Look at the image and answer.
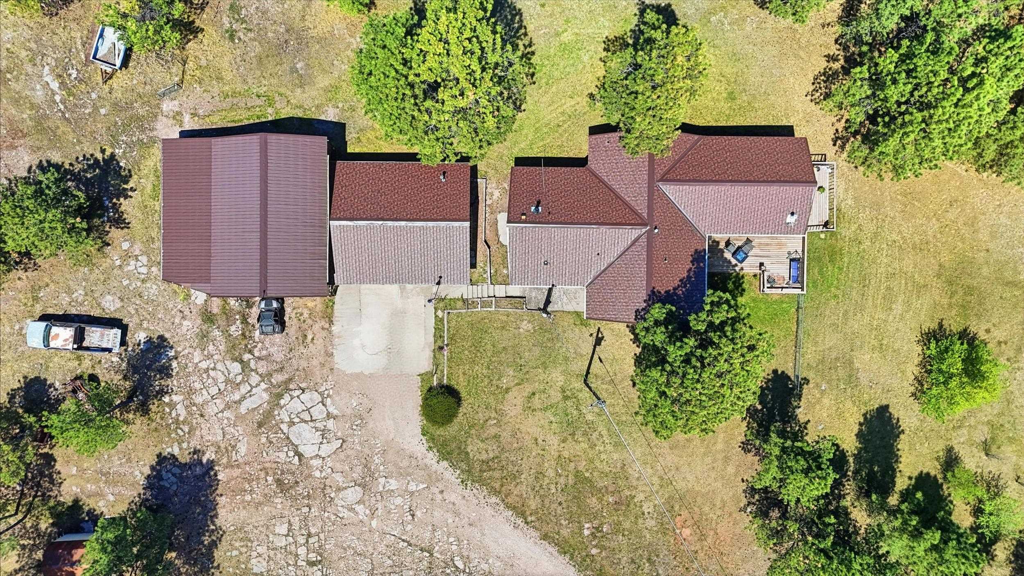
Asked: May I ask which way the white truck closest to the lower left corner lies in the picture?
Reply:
from left to right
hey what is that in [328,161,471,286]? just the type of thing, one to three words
building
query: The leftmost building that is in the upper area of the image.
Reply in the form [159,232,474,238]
[160,131,339,298]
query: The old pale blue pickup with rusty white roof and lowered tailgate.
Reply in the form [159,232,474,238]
[24,317,127,355]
